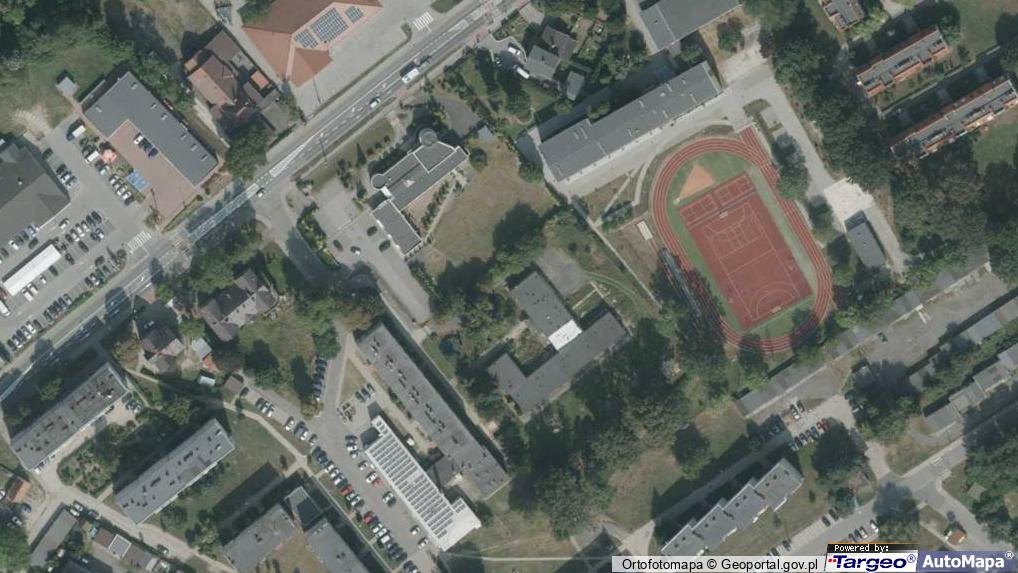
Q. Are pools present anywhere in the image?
No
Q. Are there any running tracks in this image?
Yes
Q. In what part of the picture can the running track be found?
right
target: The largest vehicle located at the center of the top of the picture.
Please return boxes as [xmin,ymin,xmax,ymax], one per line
[400,65,423,84]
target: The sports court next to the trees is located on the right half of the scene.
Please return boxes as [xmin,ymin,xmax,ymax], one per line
[679,171,812,328]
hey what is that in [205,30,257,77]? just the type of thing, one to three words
house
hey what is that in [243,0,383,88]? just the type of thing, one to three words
building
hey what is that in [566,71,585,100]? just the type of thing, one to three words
shed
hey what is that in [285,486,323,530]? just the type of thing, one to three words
building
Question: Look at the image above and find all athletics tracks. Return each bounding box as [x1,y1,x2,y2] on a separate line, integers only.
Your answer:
[649,125,833,354]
